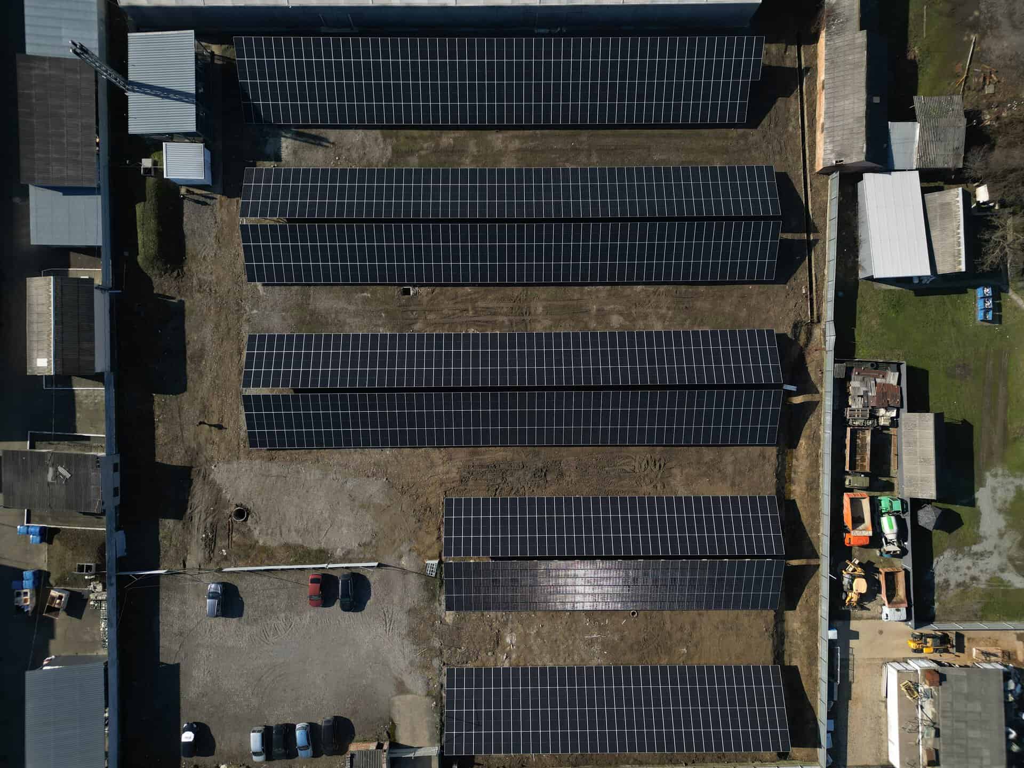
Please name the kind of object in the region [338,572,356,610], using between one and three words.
car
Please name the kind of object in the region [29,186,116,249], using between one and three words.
shed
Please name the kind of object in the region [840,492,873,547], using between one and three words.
truck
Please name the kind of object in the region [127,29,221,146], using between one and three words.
shed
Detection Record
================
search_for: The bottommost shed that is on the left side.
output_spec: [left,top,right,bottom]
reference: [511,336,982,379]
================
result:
[348,740,391,768]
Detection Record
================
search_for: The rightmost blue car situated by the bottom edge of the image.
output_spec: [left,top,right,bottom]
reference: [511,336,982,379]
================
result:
[295,721,313,756]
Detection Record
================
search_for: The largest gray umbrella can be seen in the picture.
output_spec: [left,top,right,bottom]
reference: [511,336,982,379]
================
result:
[914,501,944,529]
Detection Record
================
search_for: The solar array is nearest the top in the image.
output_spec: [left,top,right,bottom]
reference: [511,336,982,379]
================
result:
[234,36,764,123]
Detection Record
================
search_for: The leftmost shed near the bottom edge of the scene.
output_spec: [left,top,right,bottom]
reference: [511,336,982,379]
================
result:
[25,652,118,768]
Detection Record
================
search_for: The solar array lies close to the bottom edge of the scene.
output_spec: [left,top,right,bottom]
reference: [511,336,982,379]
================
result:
[444,665,790,754]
